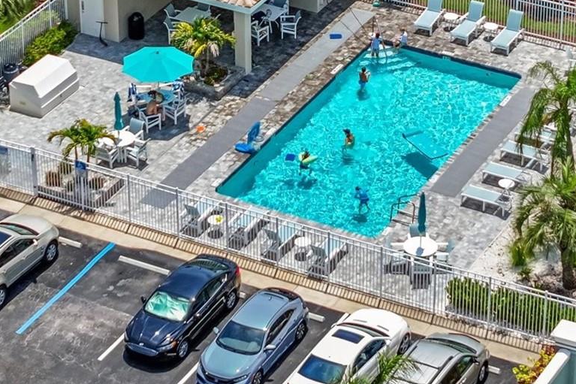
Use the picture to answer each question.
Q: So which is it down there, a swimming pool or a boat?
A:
swimming pool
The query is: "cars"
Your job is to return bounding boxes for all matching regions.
[194,283,311,384]
[0,213,65,306]
[297,301,416,384]
[389,323,493,384]
[118,252,243,362]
